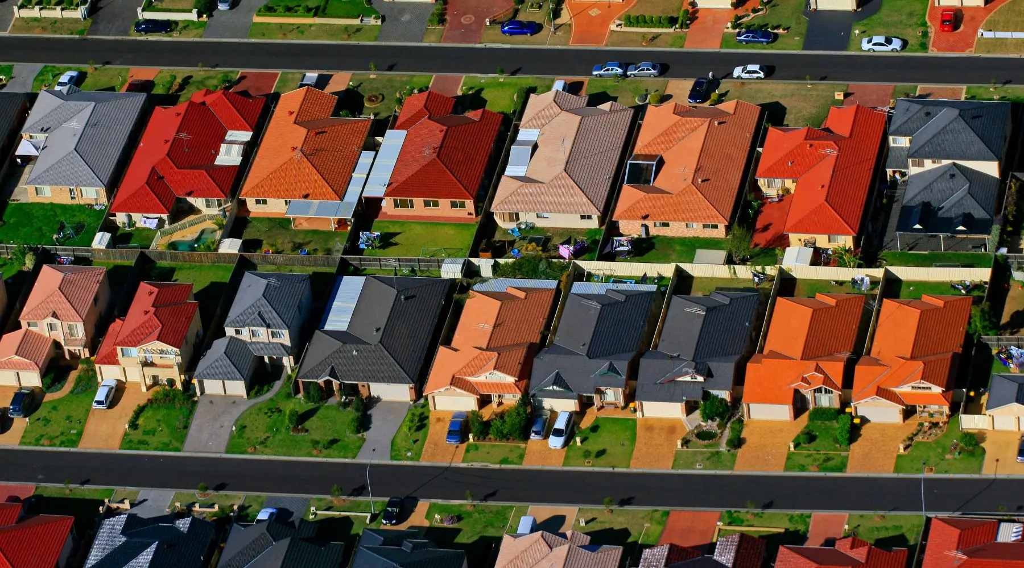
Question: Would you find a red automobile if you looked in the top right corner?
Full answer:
Yes, I can see a red automobile in the top right corner.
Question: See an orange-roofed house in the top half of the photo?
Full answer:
Yes, an orange-roofed house shows up in the top half of the photo.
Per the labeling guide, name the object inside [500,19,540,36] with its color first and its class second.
blue car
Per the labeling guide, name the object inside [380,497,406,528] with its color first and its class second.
black car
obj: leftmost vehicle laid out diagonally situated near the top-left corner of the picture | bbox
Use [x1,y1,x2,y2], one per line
[49,67,83,90]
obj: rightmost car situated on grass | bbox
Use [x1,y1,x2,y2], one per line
[860,34,903,52]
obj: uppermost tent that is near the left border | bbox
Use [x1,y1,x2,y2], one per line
[16,140,45,169]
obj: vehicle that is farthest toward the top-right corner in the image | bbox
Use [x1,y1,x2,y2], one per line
[938,9,957,30]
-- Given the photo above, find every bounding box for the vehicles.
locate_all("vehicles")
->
[9,389,34,416]
[734,28,775,45]
[938,9,957,30]
[528,414,550,439]
[250,504,280,523]
[446,416,468,443]
[819,531,838,546]
[688,76,710,101]
[297,66,319,88]
[512,516,536,533]
[548,75,569,93]
[92,380,118,408]
[549,412,574,445]
[49,67,83,90]
[590,61,627,78]
[133,16,173,33]
[732,63,767,80]
[380,497,406,528]
[860,34,903,52]
[500,19,540,36]
[1016,433,1024,461]
[624,62,661,78]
